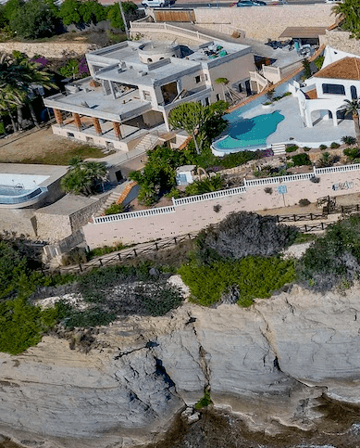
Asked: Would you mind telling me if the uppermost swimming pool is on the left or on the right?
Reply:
right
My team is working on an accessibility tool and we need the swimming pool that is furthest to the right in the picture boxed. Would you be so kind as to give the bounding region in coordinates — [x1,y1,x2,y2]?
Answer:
[216,107,288,153]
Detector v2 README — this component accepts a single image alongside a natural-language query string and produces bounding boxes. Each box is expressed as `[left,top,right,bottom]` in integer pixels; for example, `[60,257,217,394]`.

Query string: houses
[297,38,360,130]
[31,35,267,163]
